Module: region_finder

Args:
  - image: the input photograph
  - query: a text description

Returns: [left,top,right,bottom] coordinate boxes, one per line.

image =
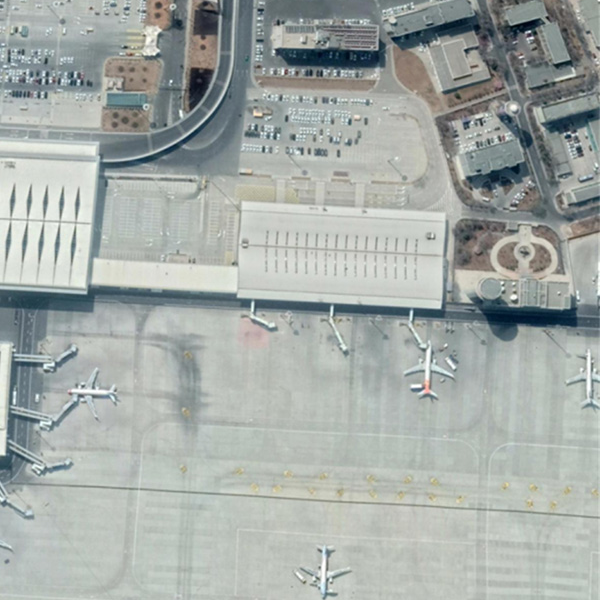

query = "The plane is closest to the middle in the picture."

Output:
[404,341,453,398]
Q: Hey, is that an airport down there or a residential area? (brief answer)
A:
airport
